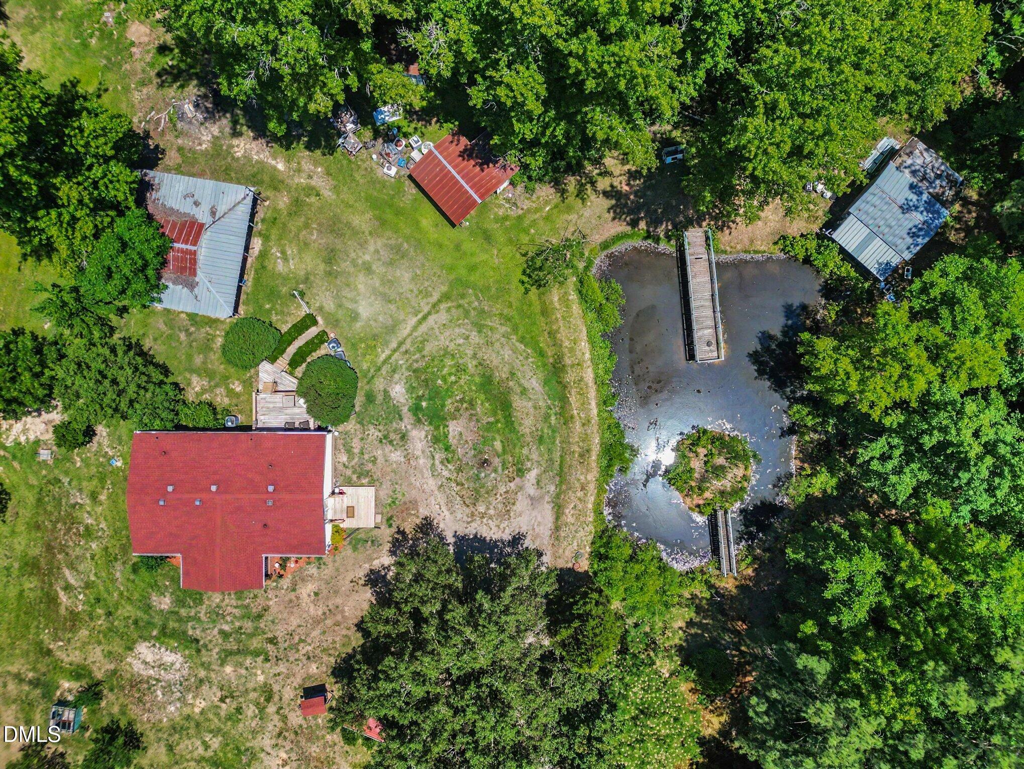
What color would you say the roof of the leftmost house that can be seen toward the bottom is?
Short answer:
red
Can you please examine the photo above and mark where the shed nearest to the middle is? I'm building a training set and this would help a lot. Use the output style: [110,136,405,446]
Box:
[409,129,519,229]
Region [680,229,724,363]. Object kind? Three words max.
pier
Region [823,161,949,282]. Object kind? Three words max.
shed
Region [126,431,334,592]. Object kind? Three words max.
house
